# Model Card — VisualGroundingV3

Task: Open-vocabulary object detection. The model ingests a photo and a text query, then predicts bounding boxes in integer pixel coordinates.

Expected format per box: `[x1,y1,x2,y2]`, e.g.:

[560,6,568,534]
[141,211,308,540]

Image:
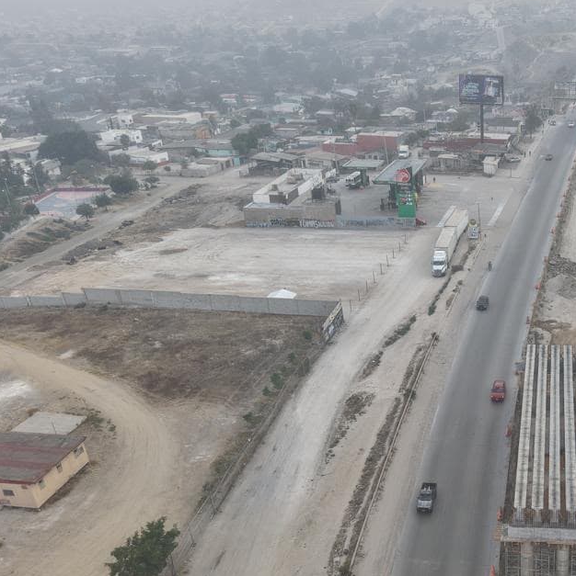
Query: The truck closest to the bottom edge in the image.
[413,474,438,510]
